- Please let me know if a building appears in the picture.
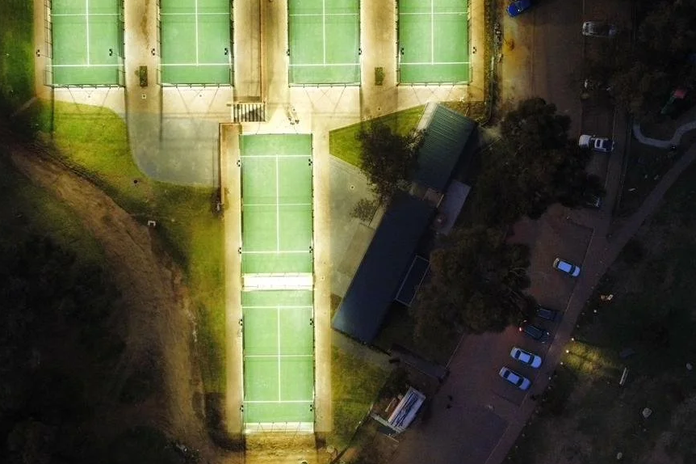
Yes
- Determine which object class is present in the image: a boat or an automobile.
automobile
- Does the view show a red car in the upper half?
No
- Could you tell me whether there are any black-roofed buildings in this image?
Yes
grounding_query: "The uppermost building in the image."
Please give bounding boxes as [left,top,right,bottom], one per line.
[407,104,478,193]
